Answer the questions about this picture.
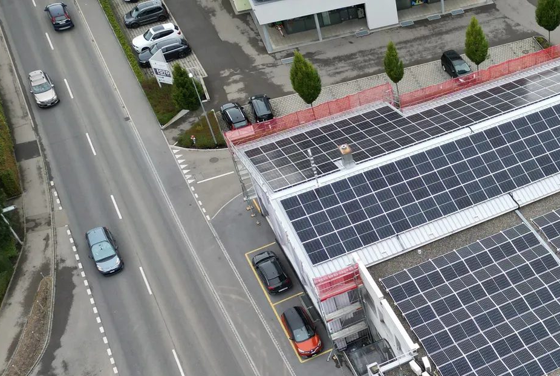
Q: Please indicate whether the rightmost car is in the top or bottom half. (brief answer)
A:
top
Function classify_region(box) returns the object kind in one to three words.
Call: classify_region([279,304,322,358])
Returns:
car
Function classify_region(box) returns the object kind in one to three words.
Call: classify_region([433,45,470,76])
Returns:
car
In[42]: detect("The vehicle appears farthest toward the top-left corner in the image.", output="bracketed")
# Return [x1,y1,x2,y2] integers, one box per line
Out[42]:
[46,6,75,33]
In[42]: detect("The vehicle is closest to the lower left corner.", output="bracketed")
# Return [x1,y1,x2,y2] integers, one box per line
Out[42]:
[85,230,122,277]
